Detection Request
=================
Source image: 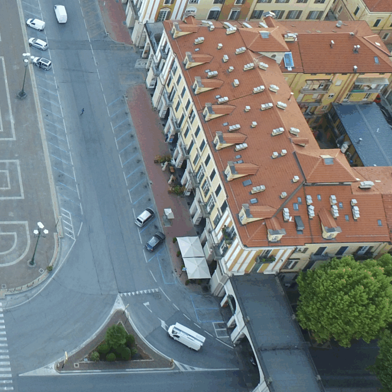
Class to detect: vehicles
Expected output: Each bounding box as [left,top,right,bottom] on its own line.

[134,207,155,228]
[167,324,209,352]
[53,7,68,22]
[25,19,47,31]
[32,56,58,69]
[145,231,165,253]
[27,38,50,50]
